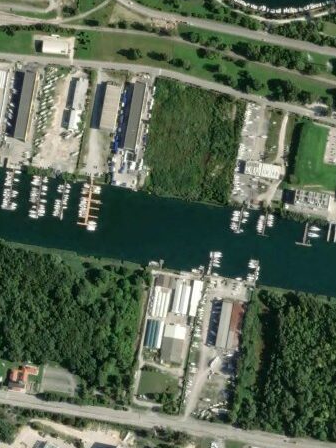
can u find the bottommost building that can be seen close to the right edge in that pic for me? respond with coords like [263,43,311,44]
[295,190,330,208]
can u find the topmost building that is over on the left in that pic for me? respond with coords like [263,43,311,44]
[41,41,70,54]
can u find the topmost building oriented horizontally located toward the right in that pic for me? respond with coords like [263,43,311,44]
[245,161,284,180]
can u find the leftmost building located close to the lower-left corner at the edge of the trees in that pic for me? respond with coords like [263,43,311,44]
[9,367,39,390]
